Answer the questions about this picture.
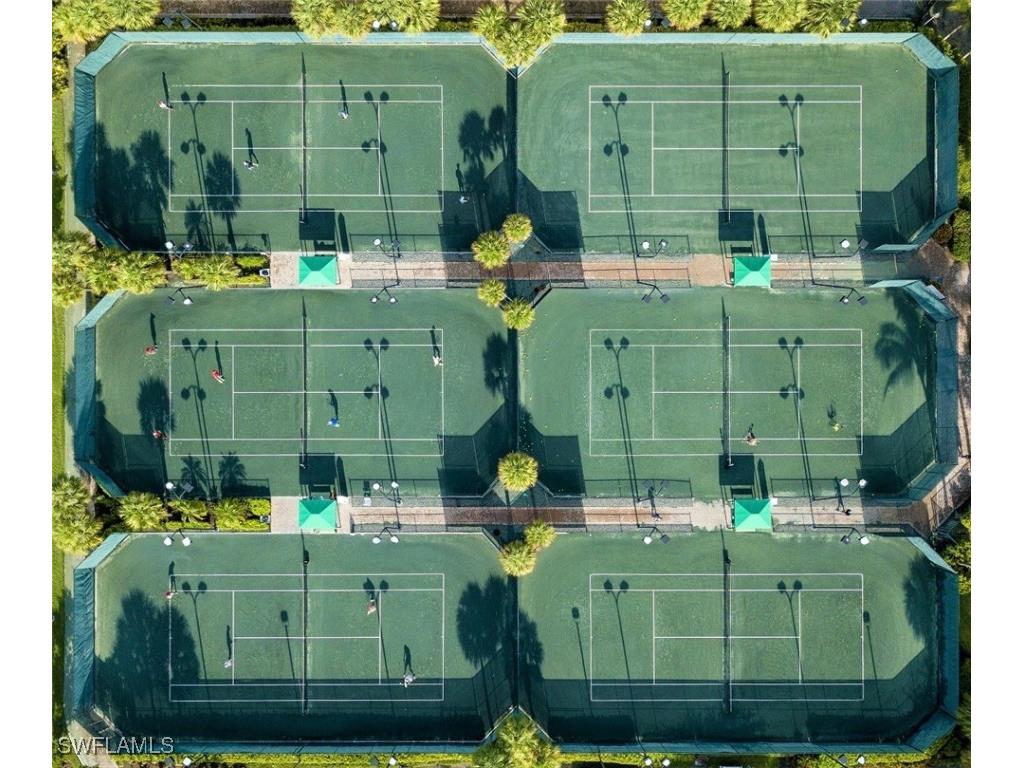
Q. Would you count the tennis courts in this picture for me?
six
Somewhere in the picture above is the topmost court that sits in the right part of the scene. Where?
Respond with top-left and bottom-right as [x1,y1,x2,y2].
[516,44,936,252]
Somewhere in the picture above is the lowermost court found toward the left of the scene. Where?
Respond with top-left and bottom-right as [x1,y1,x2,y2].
[95,533,516,741]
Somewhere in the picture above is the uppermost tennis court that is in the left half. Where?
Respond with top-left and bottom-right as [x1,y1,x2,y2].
[95,44,516,252]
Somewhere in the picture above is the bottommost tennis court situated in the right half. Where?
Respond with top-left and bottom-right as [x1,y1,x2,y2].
[516,533,936,741]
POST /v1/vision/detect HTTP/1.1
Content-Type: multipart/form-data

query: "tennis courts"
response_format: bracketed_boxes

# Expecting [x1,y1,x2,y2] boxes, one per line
[516,44,936,252]
[516,288,936,497]
[95,44,516,252]
[95,533,516,741]
[95,288,516,497]
[516,533,936,741]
